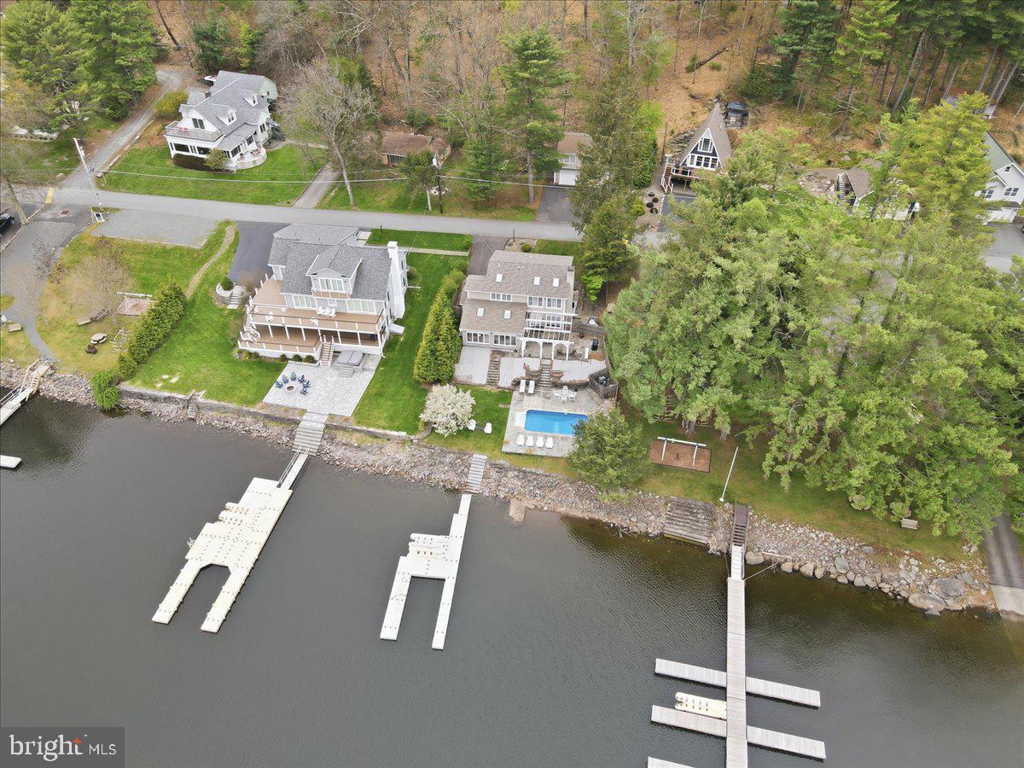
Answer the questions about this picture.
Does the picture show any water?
Yes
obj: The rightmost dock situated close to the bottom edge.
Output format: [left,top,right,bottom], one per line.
[647,578,825,768]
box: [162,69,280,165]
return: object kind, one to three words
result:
house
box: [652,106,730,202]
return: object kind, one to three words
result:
building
